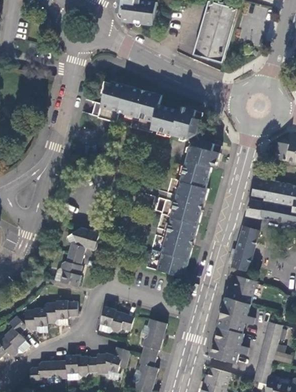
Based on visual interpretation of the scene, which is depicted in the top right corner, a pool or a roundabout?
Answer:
roundabout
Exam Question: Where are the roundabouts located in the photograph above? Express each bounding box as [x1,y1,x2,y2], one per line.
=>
[229,74,292,136]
